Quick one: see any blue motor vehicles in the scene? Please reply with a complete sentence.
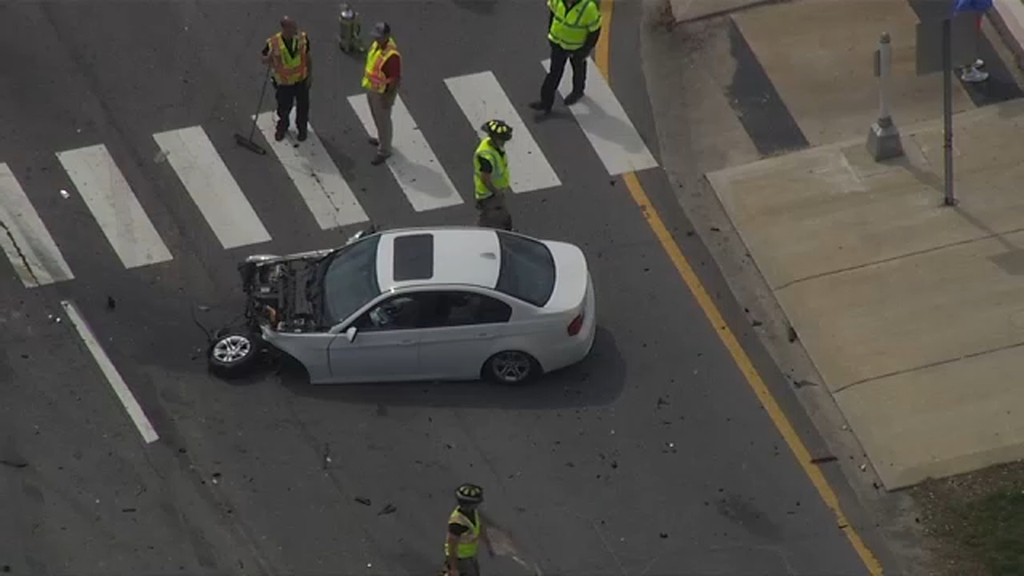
No, no blue motor vehicle is visible in the scene.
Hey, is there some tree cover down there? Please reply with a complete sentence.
No, no tree cover is visible.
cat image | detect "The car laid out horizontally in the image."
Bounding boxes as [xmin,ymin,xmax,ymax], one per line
[203,226,596,386]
